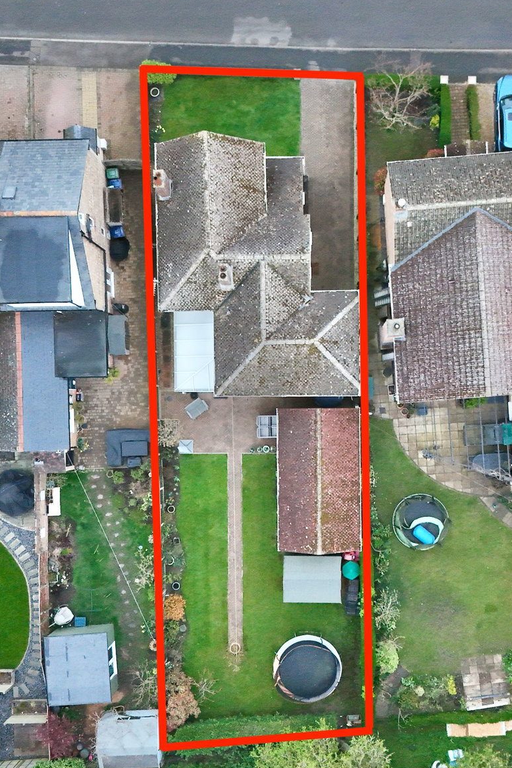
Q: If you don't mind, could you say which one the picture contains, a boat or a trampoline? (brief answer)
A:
trampoline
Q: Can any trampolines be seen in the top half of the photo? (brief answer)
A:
No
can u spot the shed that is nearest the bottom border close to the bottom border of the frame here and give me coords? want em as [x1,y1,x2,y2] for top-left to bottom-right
[95,705,164,768]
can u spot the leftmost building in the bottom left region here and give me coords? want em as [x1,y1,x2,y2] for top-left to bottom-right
[43,625,117,708]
